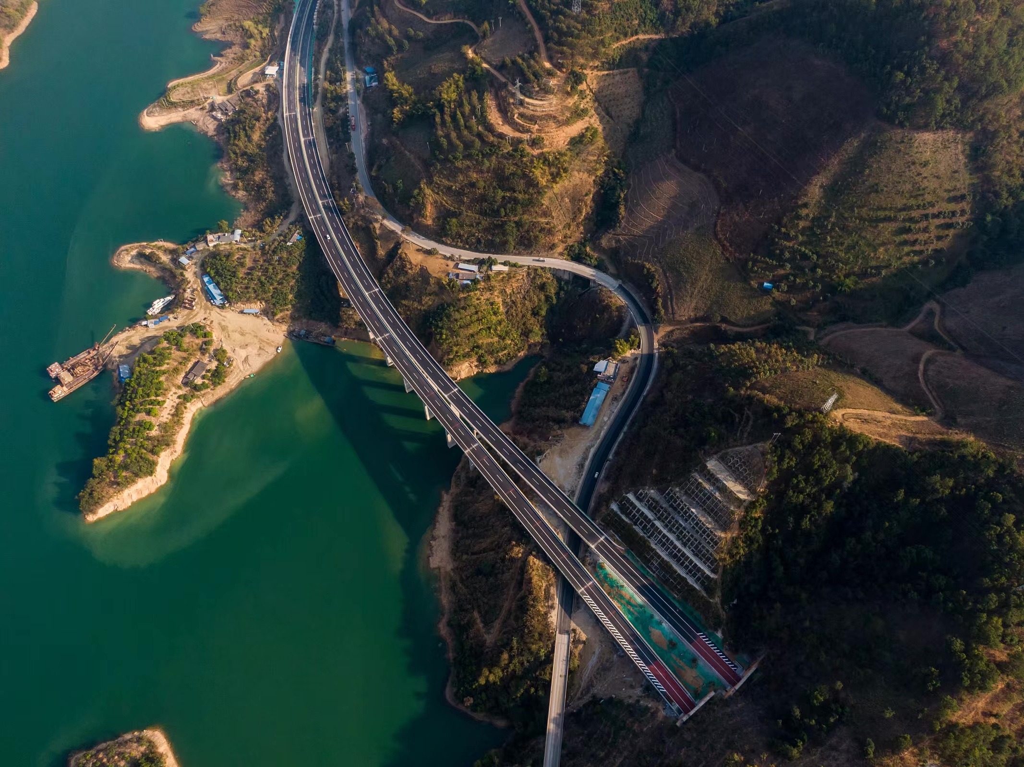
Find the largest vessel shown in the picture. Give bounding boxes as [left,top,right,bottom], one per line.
[47,324,118,400]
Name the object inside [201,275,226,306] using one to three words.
building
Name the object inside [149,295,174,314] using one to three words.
boat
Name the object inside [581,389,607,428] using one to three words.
building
